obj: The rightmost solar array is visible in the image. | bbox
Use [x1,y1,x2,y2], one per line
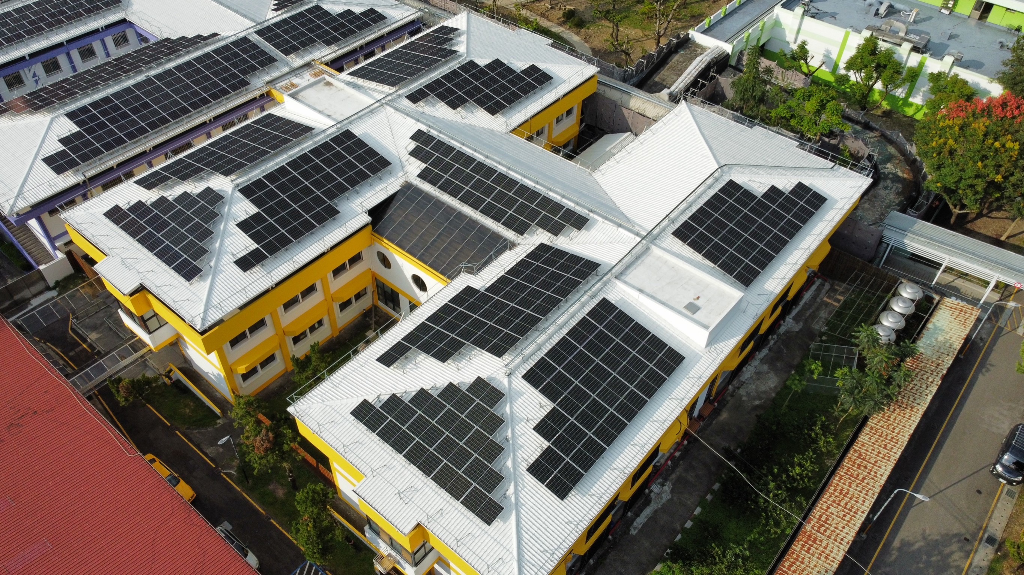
[672,179,820,289]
